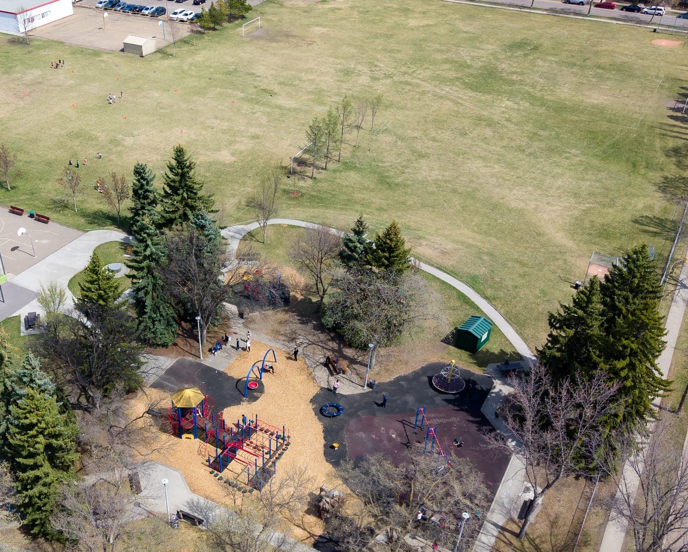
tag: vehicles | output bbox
[112,1,128,10]
[179,13,193,22]
[92,0,106,9]
[678,13,688,20]
[169,8,186,20]
[151,6,166,16]
[189,12,201,22]
[621,6,642,14]
[594,2,615,10]
[193,0,207,6]
[120,3,135,13]
[140,6,155,15]
[130,5,145,14]
[104,0,120,8]
[564,0,589,6]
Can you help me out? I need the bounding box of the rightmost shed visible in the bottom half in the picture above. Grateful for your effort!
[457,311,495,355]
